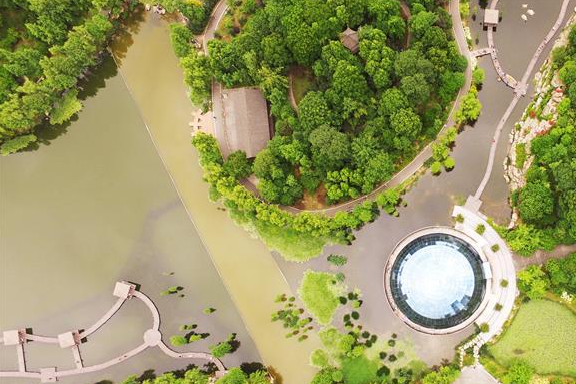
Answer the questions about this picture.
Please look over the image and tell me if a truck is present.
No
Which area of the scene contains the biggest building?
bottom right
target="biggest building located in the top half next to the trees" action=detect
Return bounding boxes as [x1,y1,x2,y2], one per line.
[225,85,272,165]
